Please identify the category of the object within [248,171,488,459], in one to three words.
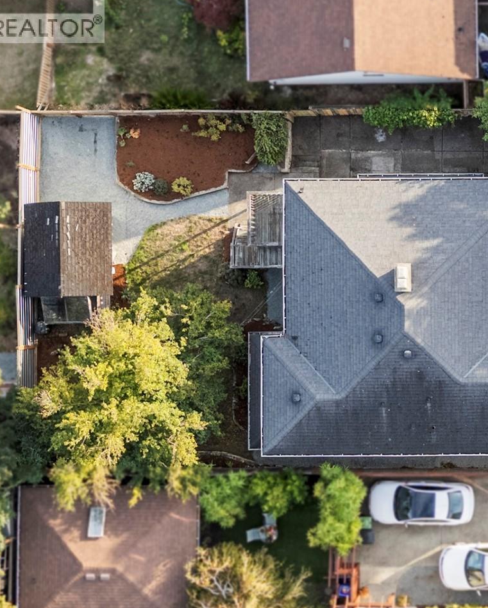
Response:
house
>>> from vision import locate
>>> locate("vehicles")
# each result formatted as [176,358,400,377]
[445,540,488,594]
[373,480,473,529]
